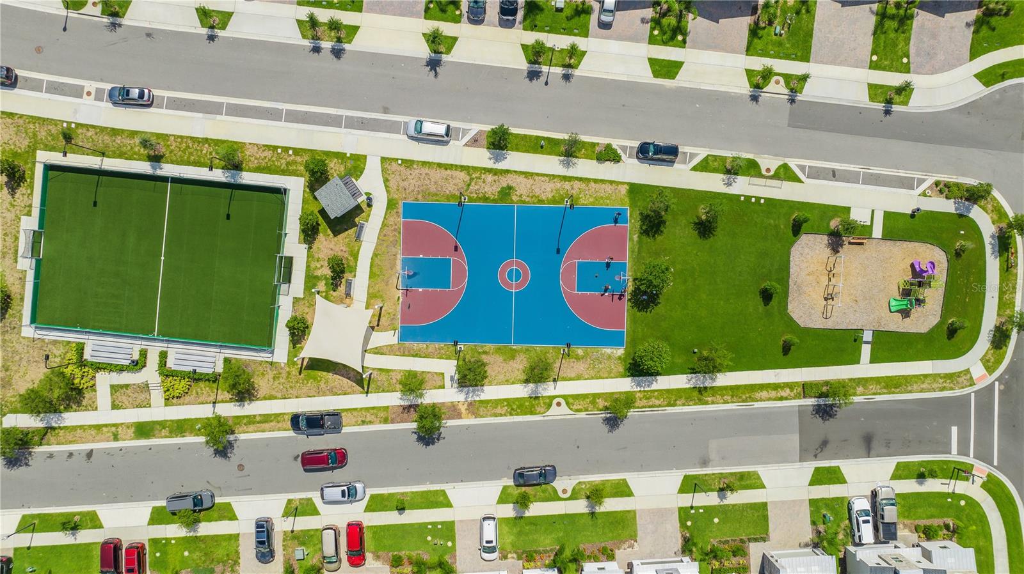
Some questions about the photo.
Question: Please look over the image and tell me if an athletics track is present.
No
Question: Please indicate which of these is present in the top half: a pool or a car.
car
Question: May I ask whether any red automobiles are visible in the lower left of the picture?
Yes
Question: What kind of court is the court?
basketball court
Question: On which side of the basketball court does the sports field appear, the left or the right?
on its left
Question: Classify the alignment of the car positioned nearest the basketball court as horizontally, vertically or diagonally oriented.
horizontally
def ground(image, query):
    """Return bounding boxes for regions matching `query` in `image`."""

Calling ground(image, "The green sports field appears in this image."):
[31,165,292,347]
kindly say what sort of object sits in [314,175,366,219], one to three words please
building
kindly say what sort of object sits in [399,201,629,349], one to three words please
basketball court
